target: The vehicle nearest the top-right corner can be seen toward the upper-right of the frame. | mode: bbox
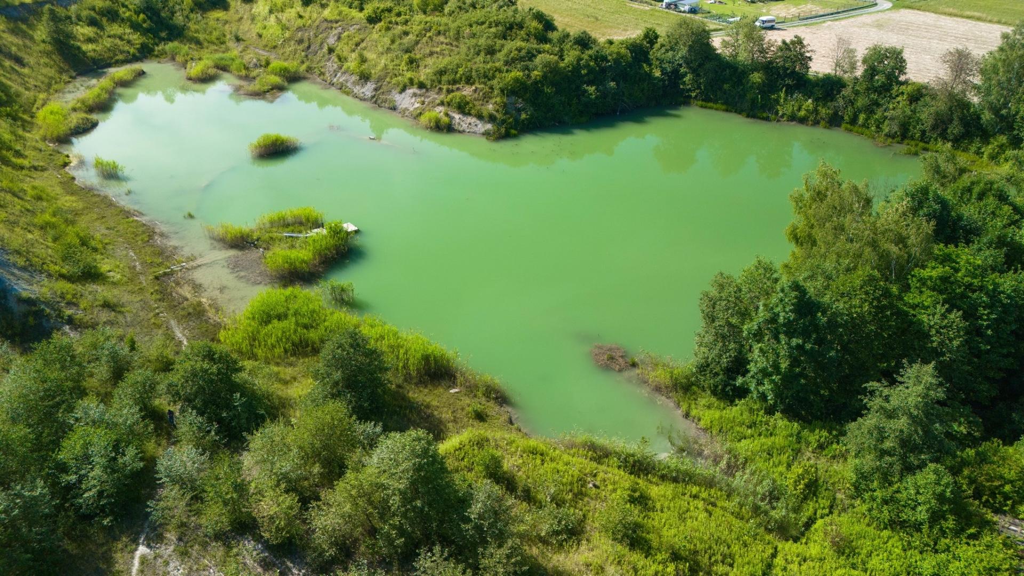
[756,15,780,29]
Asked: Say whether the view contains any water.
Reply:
Yes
